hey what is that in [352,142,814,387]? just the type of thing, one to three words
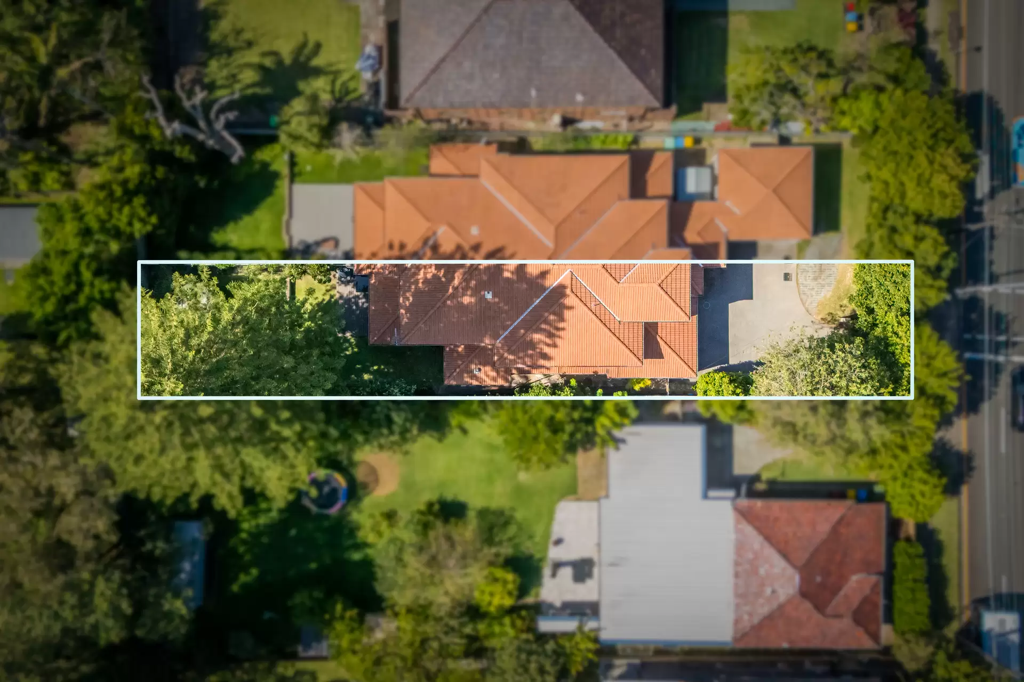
house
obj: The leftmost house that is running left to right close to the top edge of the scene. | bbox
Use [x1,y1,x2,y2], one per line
[397,0,667,122]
